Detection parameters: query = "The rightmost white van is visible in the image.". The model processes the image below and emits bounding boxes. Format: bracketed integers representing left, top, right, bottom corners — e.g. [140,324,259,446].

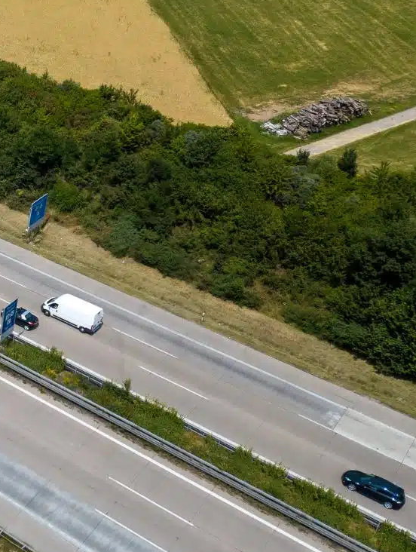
[44,295,107,336]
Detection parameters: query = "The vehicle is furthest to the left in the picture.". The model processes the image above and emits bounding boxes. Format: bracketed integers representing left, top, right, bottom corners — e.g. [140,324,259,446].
[13,305,45,330]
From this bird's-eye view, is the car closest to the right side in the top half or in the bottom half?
bottom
